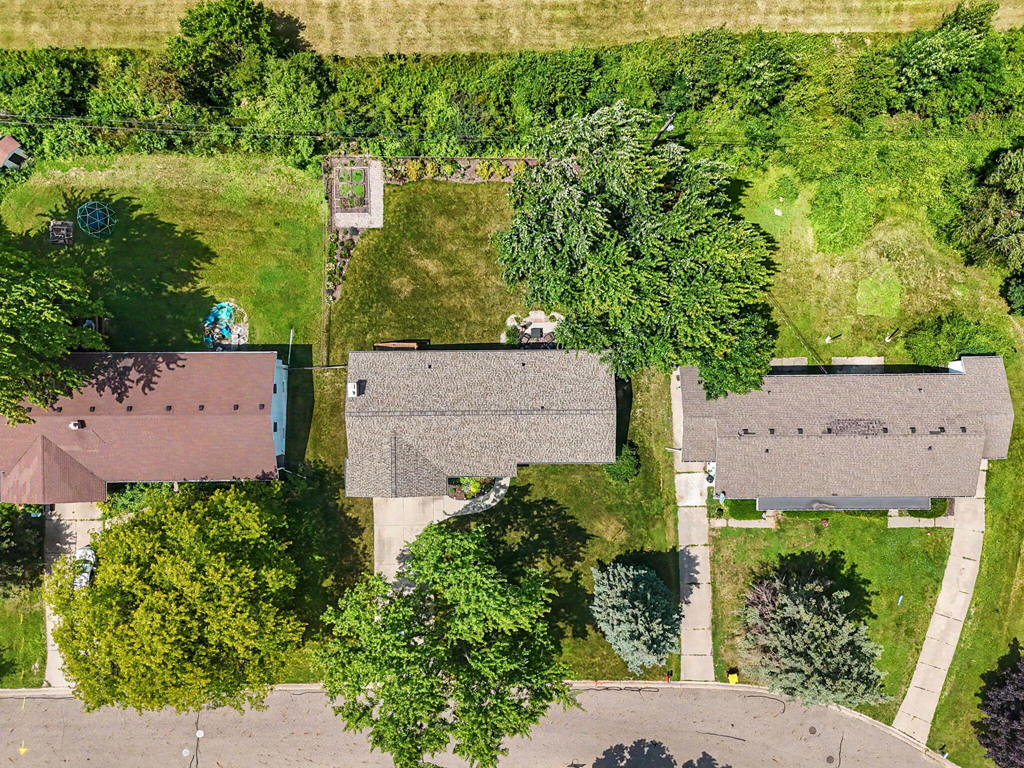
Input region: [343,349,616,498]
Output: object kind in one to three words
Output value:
house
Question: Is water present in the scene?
No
